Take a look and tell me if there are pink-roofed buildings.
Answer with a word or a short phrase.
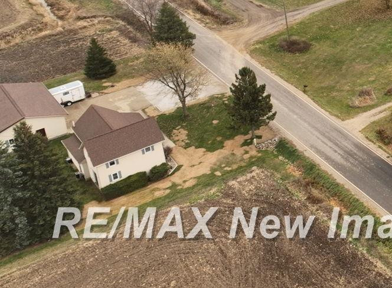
No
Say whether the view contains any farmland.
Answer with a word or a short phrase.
Yes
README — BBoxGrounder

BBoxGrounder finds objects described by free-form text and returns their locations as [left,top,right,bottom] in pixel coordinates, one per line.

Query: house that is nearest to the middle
[54,104,165,190]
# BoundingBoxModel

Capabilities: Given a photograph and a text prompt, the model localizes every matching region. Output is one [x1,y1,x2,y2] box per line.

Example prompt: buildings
[0,81,70,156]
[54,104,165,190]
